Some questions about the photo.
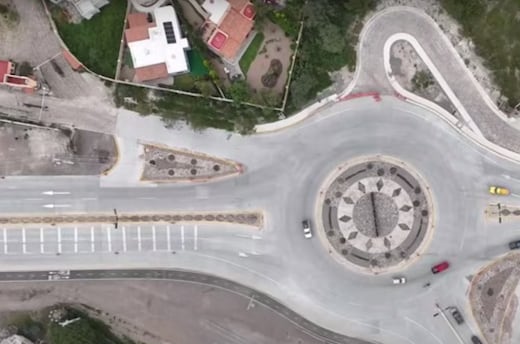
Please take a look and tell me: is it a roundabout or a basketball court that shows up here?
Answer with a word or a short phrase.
roundabout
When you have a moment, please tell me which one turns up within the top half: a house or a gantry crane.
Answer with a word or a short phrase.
house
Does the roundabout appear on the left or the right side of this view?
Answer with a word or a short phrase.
right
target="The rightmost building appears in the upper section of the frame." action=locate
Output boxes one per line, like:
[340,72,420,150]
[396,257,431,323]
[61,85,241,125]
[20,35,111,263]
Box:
[202,0,259,81]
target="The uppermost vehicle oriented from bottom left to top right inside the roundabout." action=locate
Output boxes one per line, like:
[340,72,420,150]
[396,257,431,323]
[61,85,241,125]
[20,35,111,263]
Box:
[429,260,450,275]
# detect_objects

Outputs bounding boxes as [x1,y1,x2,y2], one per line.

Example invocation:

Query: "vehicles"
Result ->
[429,260,450,275]
[391,278,407,285]
[451,308,464,325]
[471,334,483,344]
[302,220,312,239]
[488,186,509,195]
[508,239,520,249]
